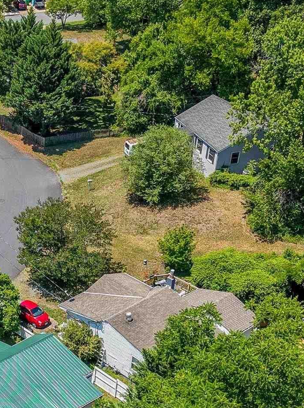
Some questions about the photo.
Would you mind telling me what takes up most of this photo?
trees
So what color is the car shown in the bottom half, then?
red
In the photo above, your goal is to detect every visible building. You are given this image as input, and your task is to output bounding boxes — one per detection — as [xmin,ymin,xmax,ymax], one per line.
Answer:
[59,262,255,385]
[175,93,275,171]
[0,332,102,408]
